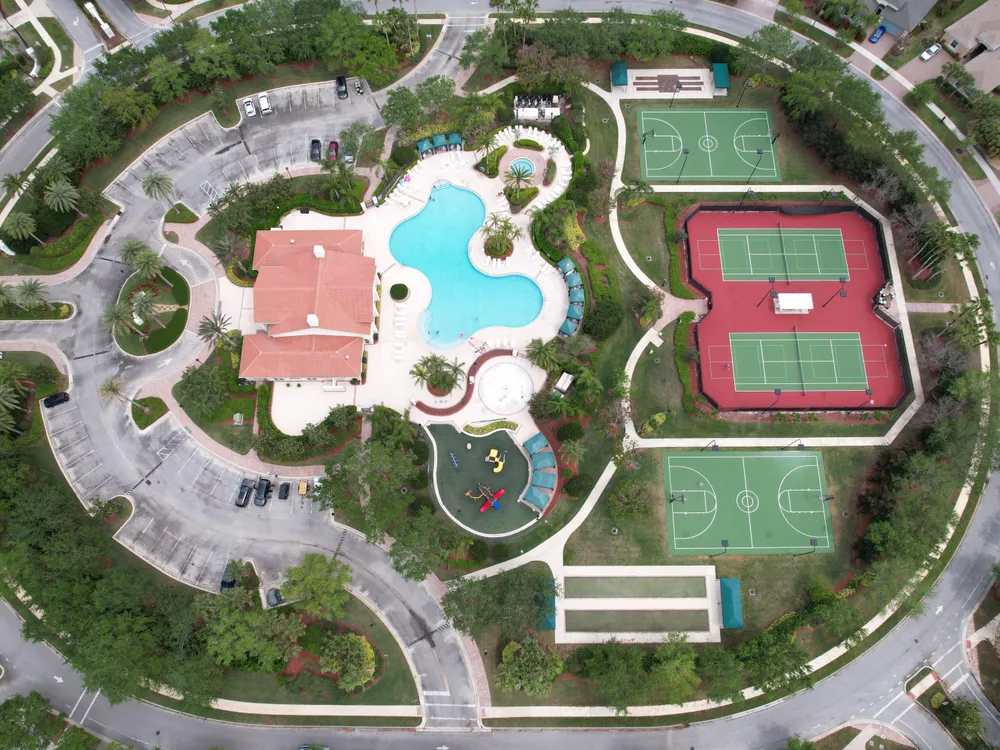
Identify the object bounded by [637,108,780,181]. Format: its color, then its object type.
green basketball court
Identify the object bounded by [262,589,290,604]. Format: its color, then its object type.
gray car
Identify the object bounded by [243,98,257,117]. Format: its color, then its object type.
white vehicle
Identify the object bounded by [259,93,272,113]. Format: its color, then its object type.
white vehicle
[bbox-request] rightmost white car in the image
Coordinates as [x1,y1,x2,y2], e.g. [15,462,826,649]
[920,44,941,62]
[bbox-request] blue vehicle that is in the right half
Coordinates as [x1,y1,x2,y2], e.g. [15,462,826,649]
[869,25,886,44]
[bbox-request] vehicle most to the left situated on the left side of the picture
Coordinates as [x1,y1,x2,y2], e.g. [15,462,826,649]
[43,391,71,408]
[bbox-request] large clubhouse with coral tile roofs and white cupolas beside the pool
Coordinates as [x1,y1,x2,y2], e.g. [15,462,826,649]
[238,229,383,381]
